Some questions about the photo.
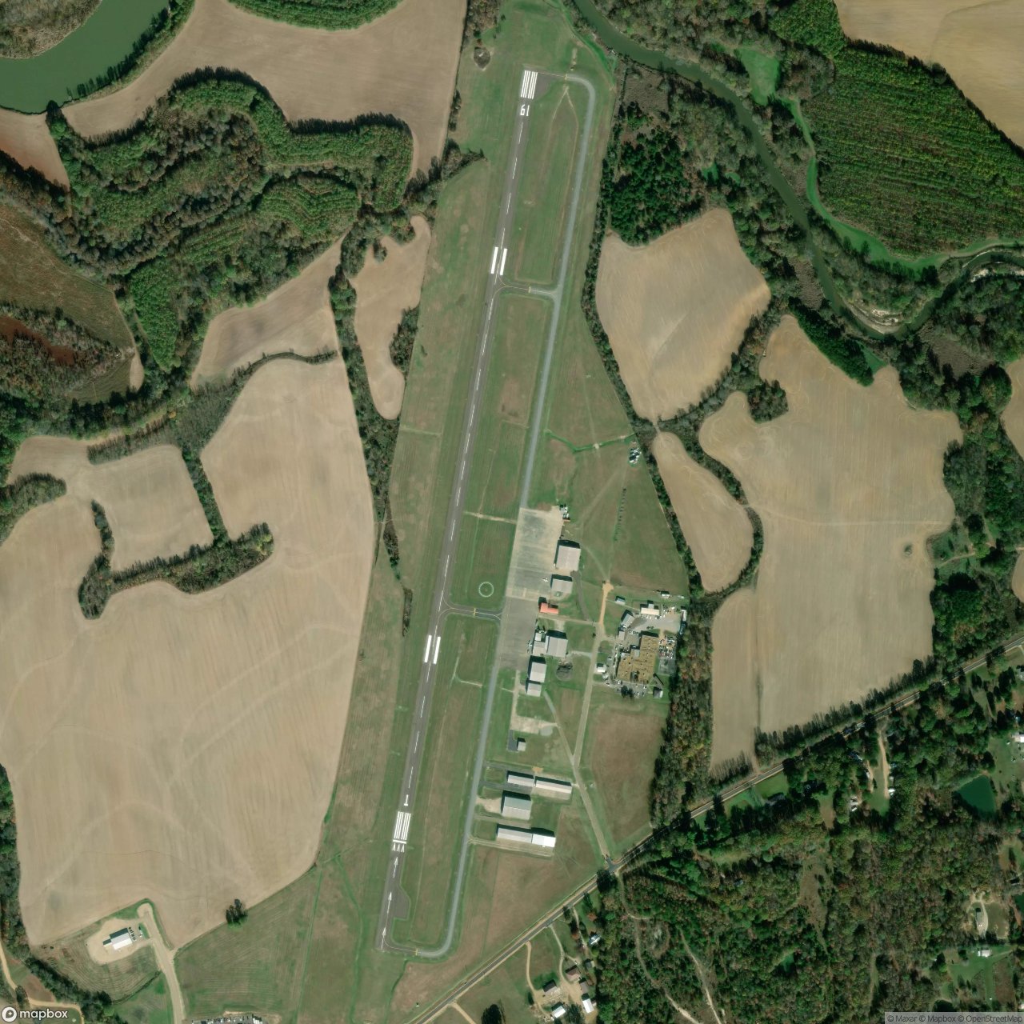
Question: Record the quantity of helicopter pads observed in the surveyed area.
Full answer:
The picture shows no helicopter pads.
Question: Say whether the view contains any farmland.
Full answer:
Yes, farmland shows up in the scene.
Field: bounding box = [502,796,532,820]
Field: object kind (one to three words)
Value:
hangar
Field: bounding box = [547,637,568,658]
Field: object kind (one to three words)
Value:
hangar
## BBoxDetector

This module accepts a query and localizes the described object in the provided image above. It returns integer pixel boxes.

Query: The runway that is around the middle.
[375,70,537,950]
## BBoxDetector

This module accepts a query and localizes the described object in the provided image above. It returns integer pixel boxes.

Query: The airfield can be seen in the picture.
[172,0,690,1024]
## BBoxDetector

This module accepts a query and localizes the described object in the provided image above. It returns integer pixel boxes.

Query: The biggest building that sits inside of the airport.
[617,635,659,683]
